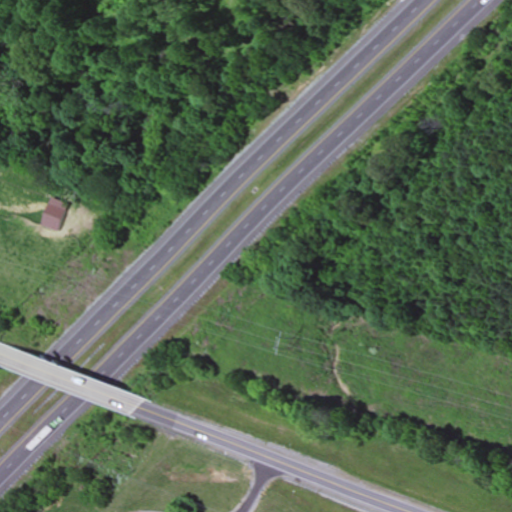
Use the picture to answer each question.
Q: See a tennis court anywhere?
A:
No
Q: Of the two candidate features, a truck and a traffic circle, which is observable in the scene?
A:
truck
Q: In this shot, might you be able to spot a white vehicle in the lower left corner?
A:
Yes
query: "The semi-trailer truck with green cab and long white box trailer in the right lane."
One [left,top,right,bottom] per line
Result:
[26,420,58,452]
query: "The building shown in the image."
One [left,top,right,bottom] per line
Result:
[39,196,68,232]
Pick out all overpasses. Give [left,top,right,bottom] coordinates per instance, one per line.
[0,342,156,418]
